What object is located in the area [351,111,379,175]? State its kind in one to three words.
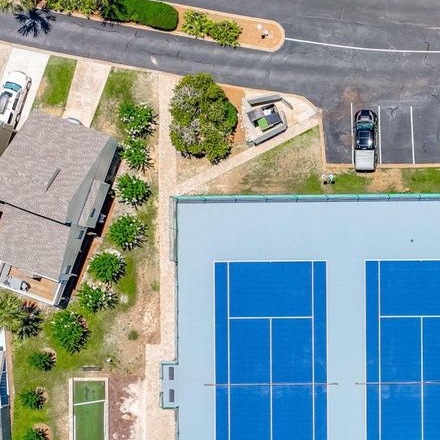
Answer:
truck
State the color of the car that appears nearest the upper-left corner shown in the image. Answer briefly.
white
